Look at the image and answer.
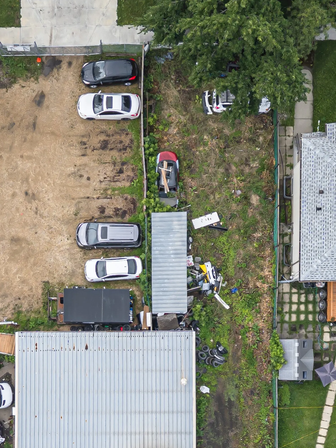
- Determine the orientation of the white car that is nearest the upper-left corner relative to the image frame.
horizontally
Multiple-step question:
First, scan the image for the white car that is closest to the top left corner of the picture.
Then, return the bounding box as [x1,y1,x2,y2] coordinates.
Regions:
[78,90,141,122]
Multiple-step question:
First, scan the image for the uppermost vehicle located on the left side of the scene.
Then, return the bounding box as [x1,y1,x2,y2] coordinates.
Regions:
[82,56,139,88]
